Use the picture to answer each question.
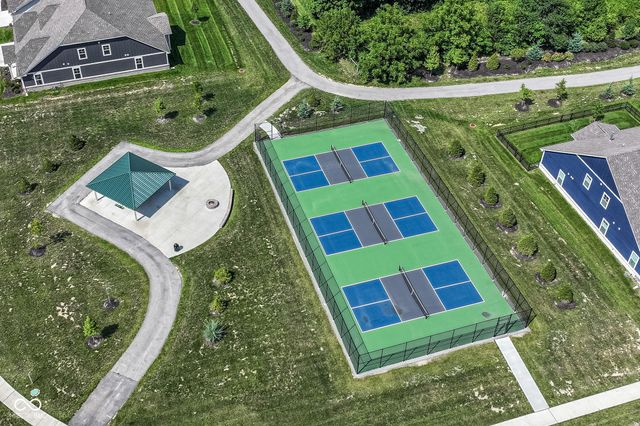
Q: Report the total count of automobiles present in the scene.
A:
0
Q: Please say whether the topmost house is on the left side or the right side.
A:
left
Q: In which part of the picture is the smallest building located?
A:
left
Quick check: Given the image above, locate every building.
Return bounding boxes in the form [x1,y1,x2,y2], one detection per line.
[540,117,640,284]
[86,152,176,221]
[2,0,175,90]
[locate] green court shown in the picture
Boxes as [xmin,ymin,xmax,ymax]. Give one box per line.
[252,117,533,377]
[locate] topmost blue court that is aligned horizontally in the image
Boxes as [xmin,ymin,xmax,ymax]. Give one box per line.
[282,142,401,191]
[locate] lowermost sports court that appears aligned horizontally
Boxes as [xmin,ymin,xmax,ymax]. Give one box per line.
[342,259,484,332]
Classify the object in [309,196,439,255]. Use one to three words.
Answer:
sports court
